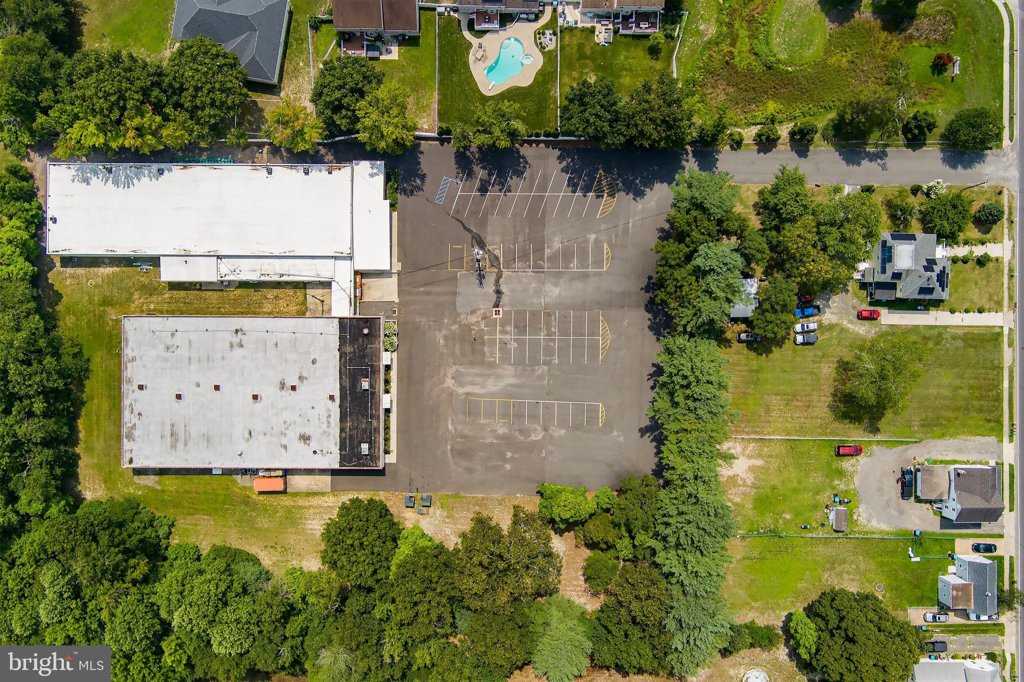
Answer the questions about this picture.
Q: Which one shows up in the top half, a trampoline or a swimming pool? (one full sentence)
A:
The feature located in the top half is a swimming pool.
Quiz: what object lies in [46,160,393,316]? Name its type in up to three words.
building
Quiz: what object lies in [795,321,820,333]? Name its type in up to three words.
vehicle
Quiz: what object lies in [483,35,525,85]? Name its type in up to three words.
swimming pool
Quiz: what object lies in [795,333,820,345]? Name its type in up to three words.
vehicle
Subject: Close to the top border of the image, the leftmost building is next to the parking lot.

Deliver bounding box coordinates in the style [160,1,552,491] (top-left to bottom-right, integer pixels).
[172,0,292,85]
